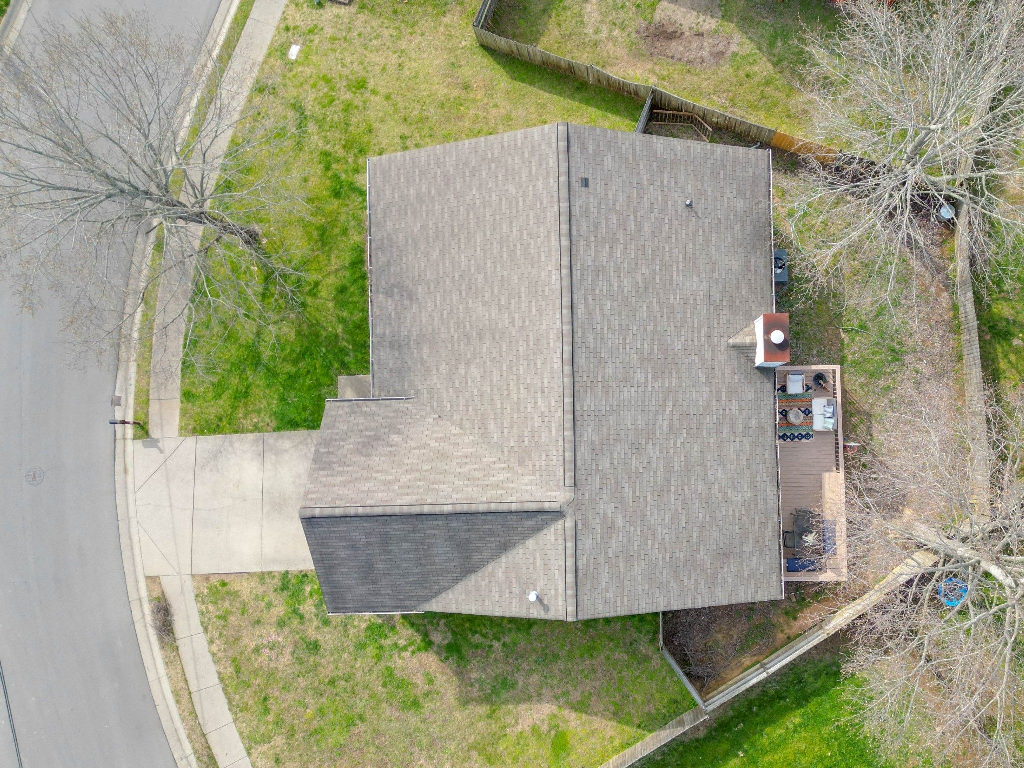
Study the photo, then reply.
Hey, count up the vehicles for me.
0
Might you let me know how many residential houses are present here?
1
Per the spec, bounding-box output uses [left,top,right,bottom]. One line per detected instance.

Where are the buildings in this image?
[299,119,791,621]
